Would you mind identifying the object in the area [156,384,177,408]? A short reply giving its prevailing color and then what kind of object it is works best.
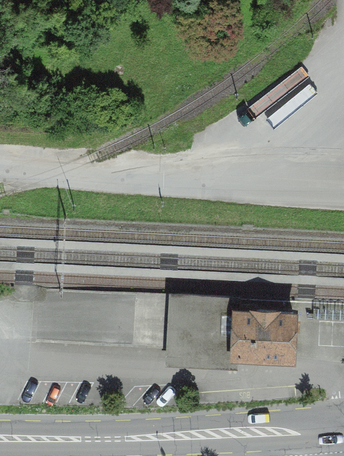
white car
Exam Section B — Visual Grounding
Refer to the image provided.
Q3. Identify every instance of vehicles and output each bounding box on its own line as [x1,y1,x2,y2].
[238,65,310,130]
[318,433,344,446]
[21,376,38,402]
[76,378,92,404]
[248,412,270,424]
[156,384,177,408]
[47,381,62,405]
[140,382,162,406]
